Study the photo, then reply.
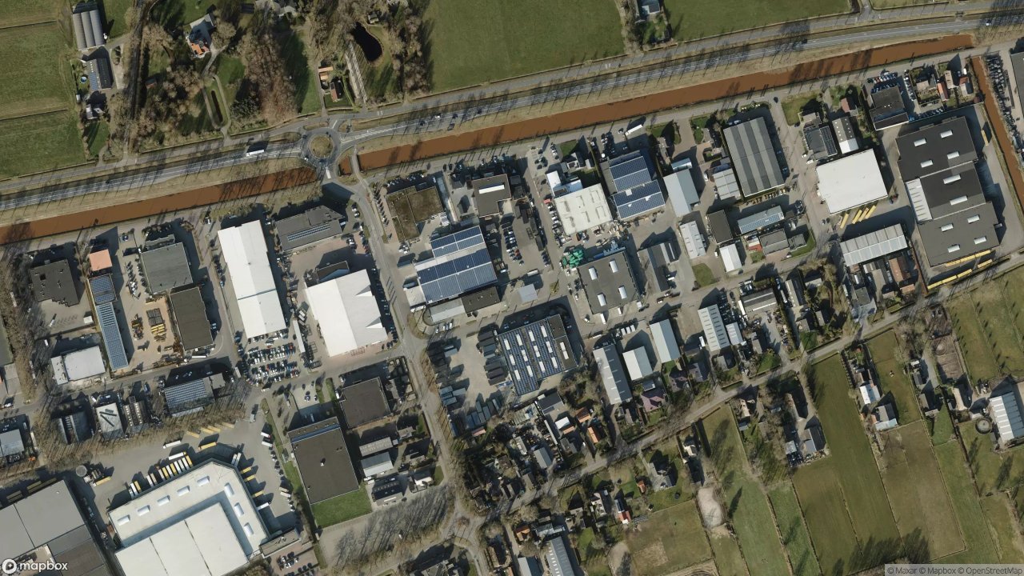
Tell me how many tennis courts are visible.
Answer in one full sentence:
The count of tennis courts is 0.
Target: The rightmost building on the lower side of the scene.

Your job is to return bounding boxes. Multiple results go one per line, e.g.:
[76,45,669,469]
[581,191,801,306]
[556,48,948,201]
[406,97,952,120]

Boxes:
[989,392,1024,437]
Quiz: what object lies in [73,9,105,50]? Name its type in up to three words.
barn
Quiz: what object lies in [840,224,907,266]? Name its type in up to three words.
shed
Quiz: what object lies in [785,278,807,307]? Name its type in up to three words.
building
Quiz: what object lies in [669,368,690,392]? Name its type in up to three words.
house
